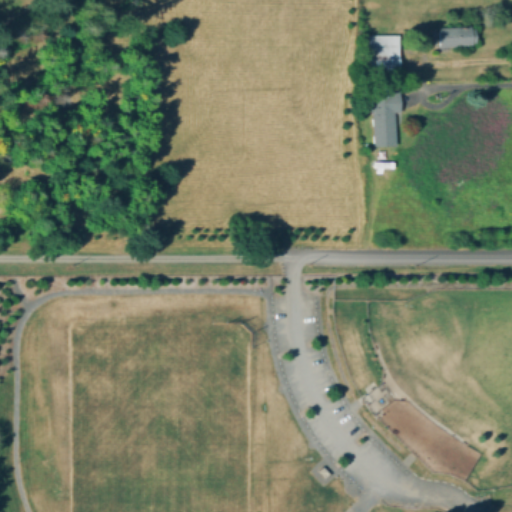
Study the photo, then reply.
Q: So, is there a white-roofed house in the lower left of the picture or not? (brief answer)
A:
No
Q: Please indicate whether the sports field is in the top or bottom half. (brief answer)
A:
bottom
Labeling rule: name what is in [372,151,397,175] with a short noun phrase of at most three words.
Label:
house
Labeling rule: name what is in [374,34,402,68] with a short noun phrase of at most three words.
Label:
barn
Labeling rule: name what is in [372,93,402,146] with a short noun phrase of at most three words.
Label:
house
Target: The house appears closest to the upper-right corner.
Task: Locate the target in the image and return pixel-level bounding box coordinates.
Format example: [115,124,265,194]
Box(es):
[440,28,478,50]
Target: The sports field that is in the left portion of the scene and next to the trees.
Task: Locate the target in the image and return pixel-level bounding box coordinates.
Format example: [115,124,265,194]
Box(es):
[64,315,260,512]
